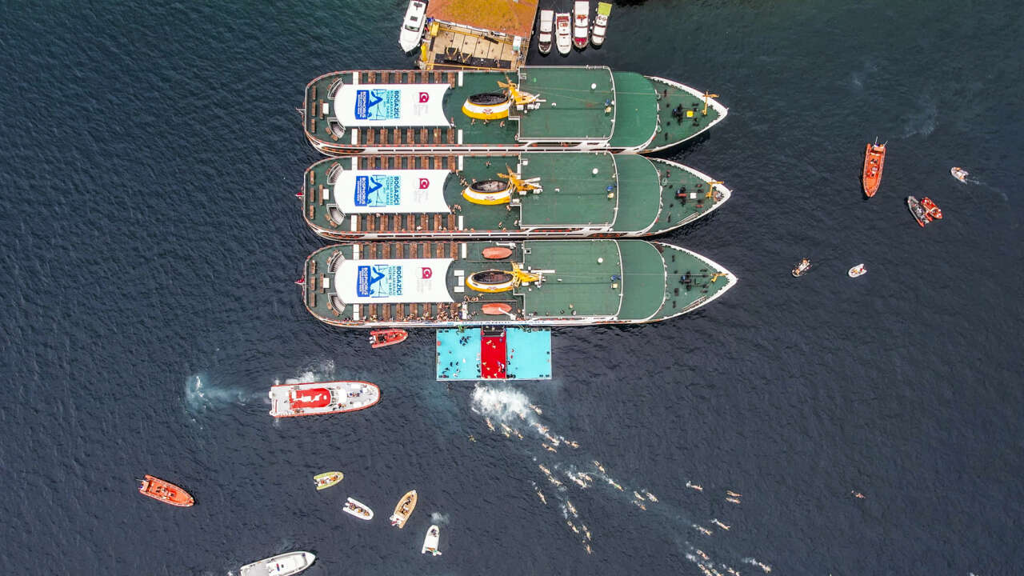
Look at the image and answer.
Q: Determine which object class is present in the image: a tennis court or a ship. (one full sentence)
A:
It is a ship that can be seen here.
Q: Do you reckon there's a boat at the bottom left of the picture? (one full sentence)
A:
Yes, I can see a boat at the bottom left of the picture.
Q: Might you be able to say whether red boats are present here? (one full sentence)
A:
Yes, there's a red boat here.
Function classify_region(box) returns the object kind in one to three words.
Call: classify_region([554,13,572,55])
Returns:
boat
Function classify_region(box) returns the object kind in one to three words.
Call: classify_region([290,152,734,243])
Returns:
ship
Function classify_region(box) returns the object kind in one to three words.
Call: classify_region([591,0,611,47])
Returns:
boat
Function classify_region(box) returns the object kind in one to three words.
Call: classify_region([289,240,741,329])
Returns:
ship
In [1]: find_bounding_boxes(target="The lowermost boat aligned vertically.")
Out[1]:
[424,526,438,557]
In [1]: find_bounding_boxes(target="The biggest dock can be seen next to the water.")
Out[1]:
[422,8,539,72]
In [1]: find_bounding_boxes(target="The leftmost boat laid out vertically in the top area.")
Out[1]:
[401,0,429,52]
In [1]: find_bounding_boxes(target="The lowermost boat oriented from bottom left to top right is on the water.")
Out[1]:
[388,492,417,528]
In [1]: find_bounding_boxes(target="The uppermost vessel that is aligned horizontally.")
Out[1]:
[292,65,728,158]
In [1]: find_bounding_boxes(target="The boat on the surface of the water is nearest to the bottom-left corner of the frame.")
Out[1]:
[137,477,193,506]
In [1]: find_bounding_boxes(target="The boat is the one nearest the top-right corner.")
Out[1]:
[950,168,971,184]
